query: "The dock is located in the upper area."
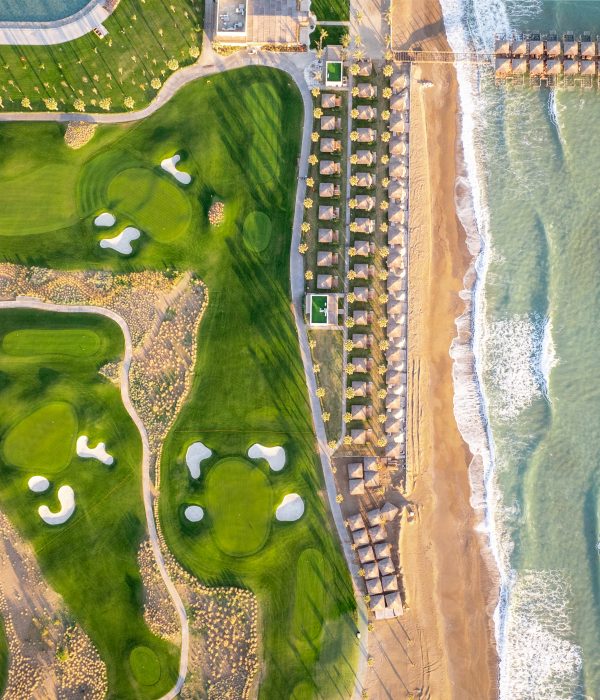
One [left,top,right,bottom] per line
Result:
[385,38,600,84]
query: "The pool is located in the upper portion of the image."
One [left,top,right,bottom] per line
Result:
[0,0,118,44]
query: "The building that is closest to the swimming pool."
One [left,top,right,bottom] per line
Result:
[213,0,299,48]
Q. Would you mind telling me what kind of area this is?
golf course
